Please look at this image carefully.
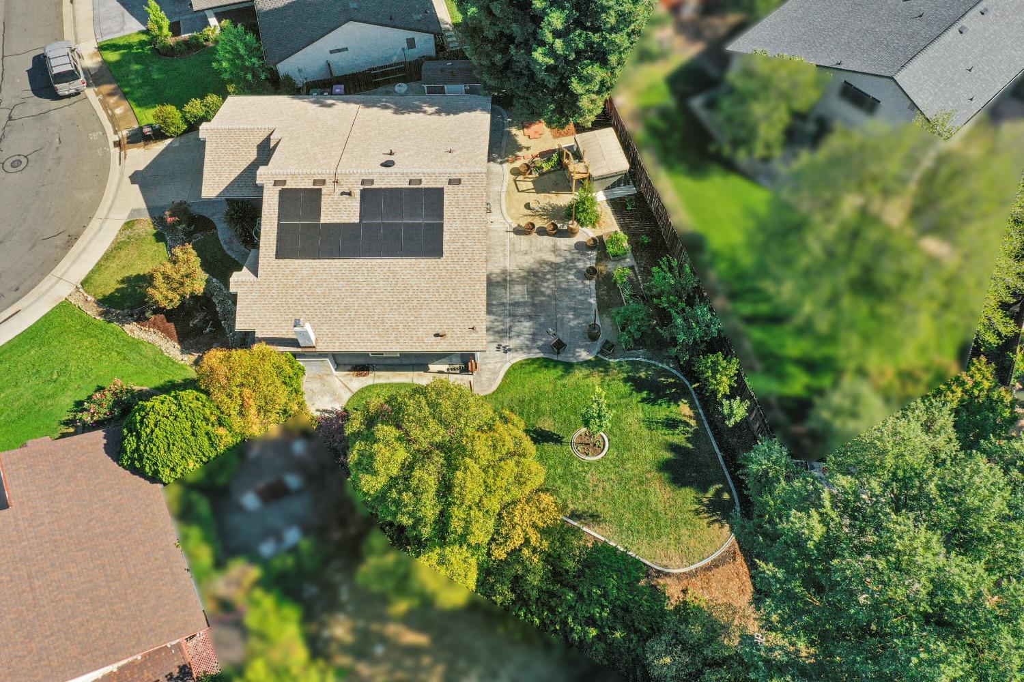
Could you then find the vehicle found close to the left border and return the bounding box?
[40,41,87,99]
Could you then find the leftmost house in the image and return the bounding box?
[0,427,223,682]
